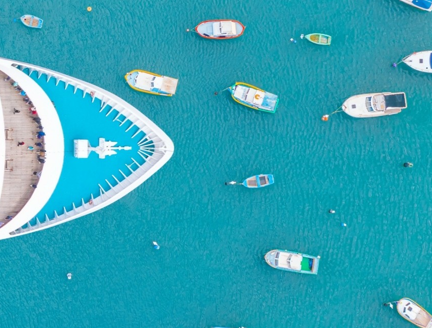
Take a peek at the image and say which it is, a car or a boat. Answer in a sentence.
There is a boat in the scene.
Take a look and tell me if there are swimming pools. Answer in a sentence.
No, there isn't any swimming pool down there.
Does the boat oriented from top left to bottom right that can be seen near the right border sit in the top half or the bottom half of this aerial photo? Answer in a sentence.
The bottom half of the photo is where the boat oriented from top left to bottom right that can be seen near the right border is.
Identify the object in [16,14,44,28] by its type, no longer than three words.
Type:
boat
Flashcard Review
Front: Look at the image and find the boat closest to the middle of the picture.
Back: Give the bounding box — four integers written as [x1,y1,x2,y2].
[233,173,275,188]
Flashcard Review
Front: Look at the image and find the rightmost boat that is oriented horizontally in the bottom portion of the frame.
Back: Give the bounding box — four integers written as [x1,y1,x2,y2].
[264,250,322,275]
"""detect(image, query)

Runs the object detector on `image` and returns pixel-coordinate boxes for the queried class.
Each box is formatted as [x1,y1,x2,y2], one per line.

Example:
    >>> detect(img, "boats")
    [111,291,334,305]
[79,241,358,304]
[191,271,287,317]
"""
[190,16,248,40]
[224,81,280,114]
[16,14,44,28]
[391,299,432,328]
[306,33,332,45]
[396,51,432,73]
[264,250,322,275]
[233,173,275,188]
[328,89,408,119]
[124,70,179,99]
[395,0,432,14]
